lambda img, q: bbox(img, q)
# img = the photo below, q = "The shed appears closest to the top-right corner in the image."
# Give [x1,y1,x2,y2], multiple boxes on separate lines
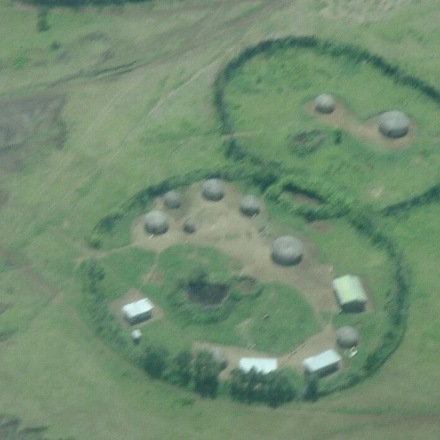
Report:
[378,111,410,140]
